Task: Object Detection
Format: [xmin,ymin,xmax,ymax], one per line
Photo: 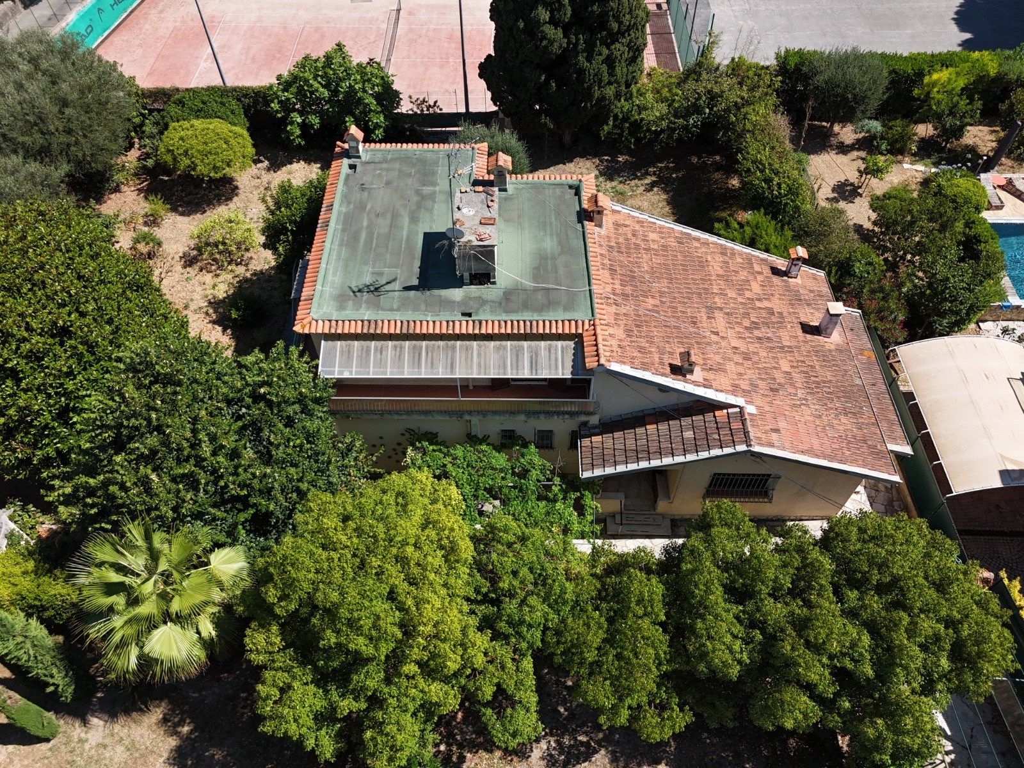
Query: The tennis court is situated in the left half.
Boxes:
[56,0,677,125]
